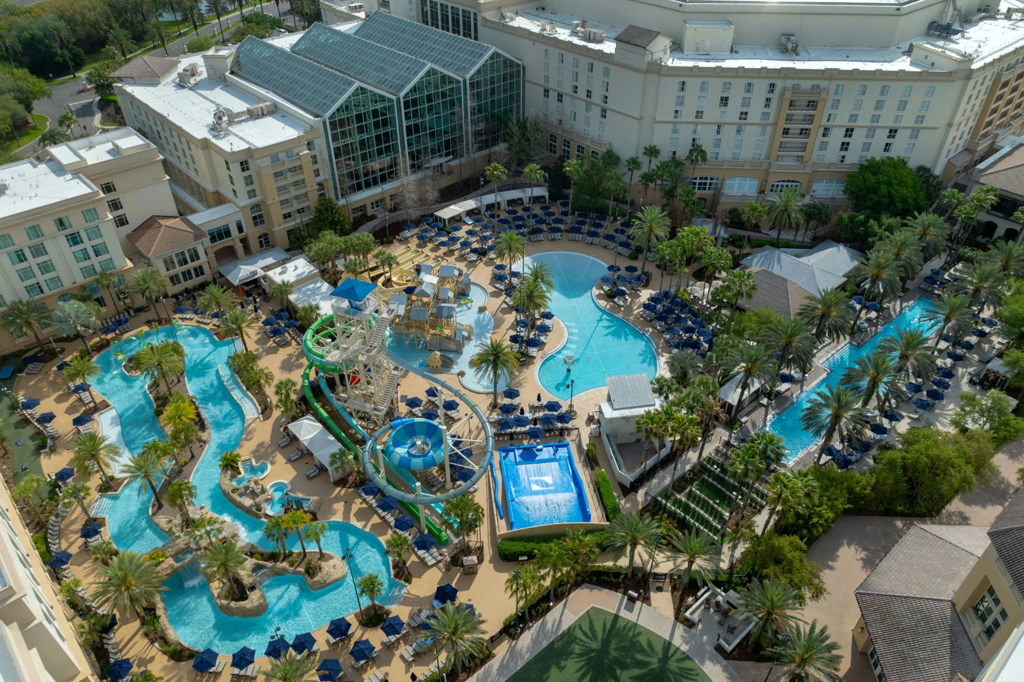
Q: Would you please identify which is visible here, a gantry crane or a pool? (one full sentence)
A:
This aerial view contains a pool.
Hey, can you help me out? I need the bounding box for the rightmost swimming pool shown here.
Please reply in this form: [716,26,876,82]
[770,297,943,465]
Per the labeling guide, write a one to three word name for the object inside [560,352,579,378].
fountain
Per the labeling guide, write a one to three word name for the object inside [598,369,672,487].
building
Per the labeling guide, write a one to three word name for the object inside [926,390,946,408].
umbrella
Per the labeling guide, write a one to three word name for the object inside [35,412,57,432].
umbrella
